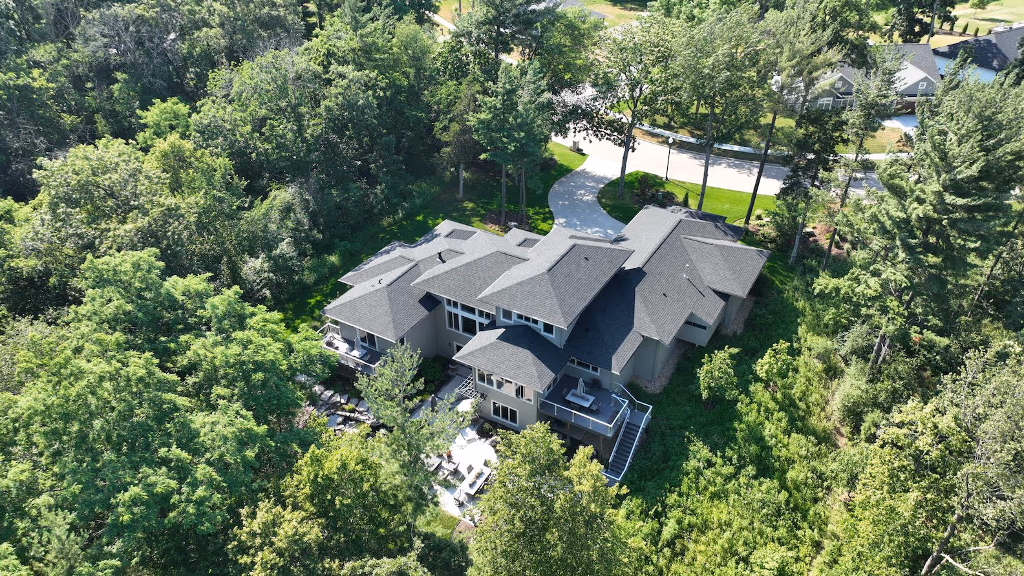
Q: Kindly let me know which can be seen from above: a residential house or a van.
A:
residential house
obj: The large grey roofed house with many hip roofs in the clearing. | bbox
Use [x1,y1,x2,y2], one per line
[322,204,772,449]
